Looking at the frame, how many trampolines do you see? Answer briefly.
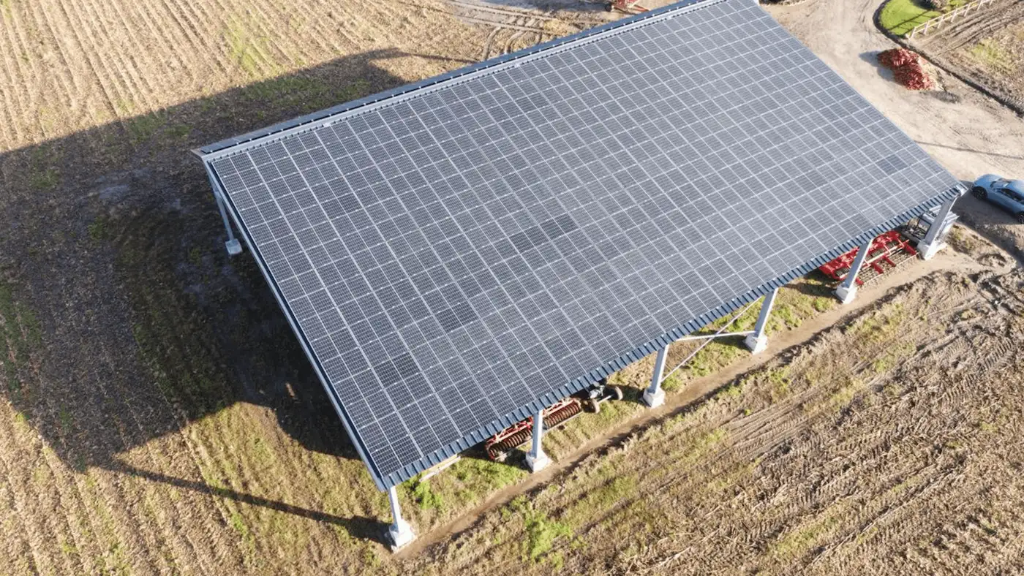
0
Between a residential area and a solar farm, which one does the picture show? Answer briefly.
solar farm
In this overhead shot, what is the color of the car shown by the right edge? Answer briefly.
blue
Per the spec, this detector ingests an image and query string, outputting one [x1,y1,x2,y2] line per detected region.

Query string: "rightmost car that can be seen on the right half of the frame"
[973,173,1024,223]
